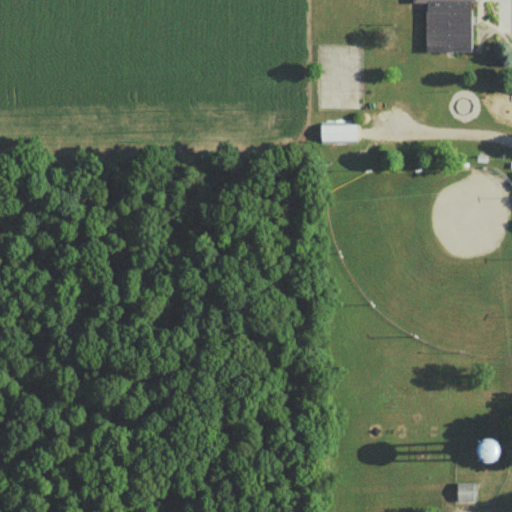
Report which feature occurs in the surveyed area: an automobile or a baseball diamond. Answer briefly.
baseball diamond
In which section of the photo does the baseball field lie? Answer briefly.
right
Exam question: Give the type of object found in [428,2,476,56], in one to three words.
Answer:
building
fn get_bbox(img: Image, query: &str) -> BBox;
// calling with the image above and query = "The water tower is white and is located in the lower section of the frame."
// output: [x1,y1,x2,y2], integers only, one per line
[474,439,500,465]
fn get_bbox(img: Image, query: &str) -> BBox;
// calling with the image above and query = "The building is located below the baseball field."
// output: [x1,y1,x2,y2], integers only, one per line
[458,484,478,503]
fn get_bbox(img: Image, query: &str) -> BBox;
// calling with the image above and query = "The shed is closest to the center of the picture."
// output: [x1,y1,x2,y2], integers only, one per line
[322,122,360,141]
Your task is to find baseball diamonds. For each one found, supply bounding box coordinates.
[329,170,510,358]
